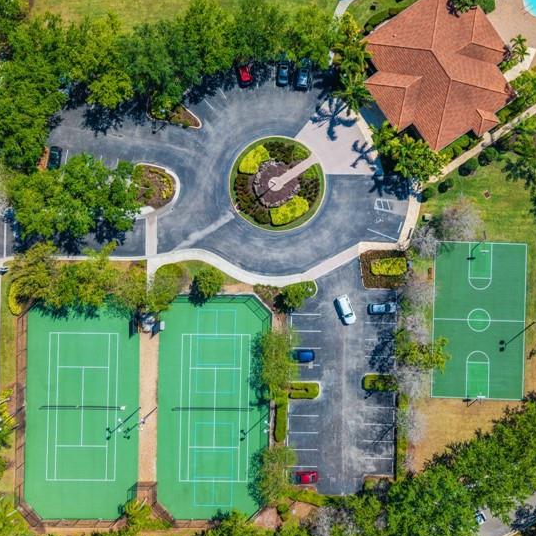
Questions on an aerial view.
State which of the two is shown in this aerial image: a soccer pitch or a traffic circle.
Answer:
traffic circle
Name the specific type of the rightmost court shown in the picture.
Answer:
basketball court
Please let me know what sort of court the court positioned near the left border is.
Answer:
tennis court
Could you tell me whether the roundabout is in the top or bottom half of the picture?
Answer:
top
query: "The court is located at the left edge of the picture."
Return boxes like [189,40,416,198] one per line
[24,296,140,520]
